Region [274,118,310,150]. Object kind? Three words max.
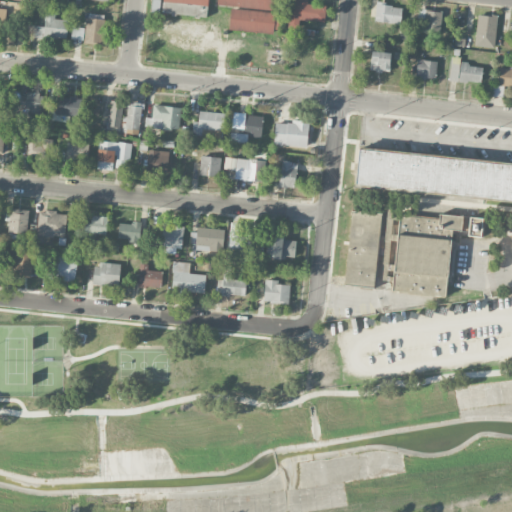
house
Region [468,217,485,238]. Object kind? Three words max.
building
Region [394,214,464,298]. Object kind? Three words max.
building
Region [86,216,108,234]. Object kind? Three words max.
house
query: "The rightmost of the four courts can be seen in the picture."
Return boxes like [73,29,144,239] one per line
[118,350,170,382]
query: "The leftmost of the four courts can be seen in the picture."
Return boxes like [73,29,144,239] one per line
[0,326,34,396]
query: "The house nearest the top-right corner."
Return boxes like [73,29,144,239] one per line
[475,14,500,48]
